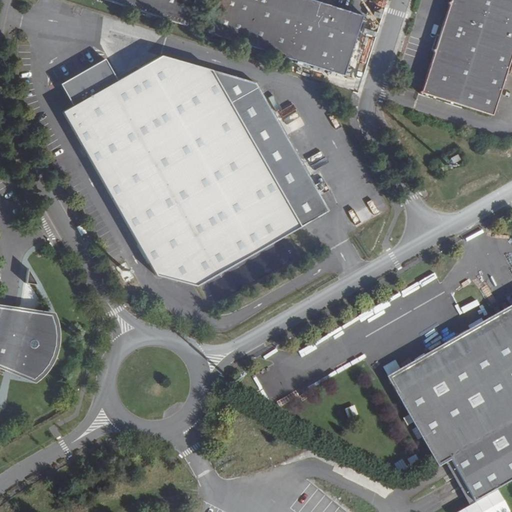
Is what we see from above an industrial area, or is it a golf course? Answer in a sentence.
This looks like an industrial area.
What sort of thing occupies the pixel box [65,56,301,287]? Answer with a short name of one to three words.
warehouse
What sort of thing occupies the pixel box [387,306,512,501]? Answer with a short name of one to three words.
building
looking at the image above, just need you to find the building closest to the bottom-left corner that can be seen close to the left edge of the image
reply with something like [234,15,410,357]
[0,306,62,383]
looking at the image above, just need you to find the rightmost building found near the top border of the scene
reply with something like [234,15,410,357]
[420,0,512,118]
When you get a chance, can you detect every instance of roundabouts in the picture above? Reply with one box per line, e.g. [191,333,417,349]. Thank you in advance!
[100,328,208,436]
